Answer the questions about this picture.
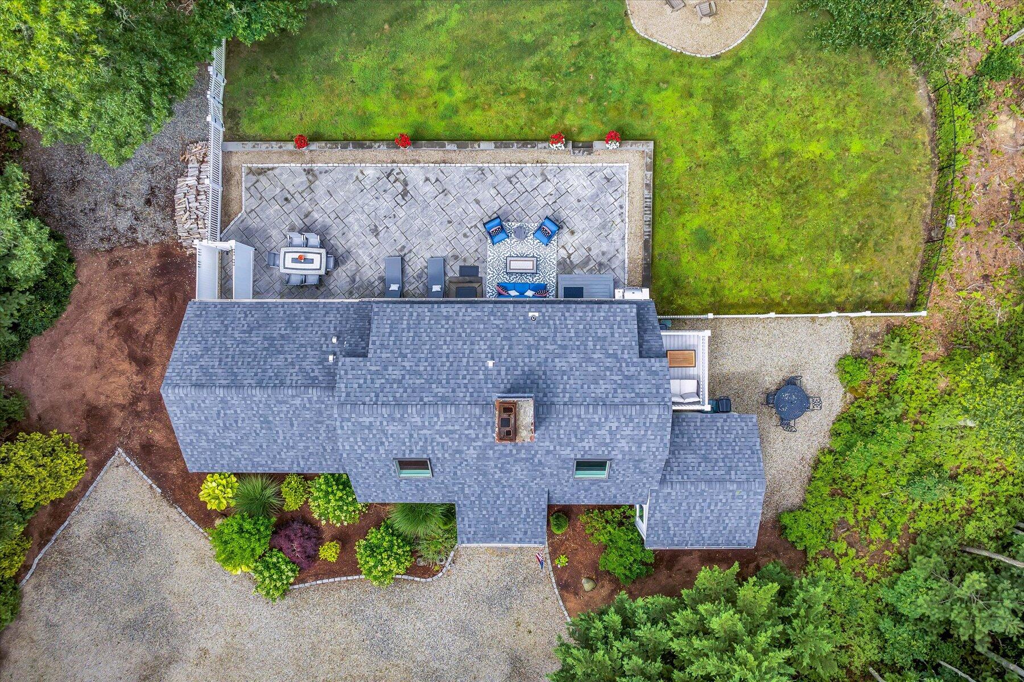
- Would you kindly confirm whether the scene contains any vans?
No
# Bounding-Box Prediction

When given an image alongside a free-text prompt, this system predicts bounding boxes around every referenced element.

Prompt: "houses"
[161,297,766,552]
